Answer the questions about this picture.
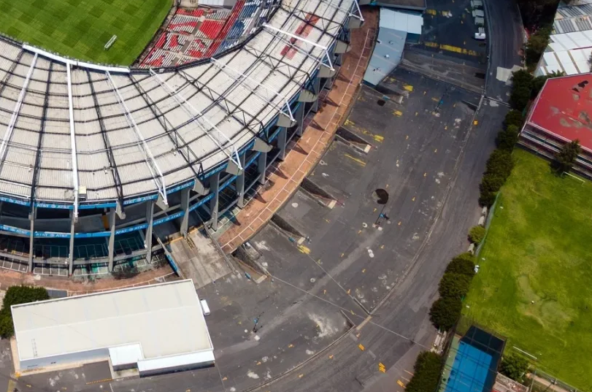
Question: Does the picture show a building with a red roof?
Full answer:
Yes, there's a building with a red roof here.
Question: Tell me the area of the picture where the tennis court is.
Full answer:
You can find the tennis court in the bottom right area of the picture.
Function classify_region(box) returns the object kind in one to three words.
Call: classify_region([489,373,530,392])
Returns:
house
